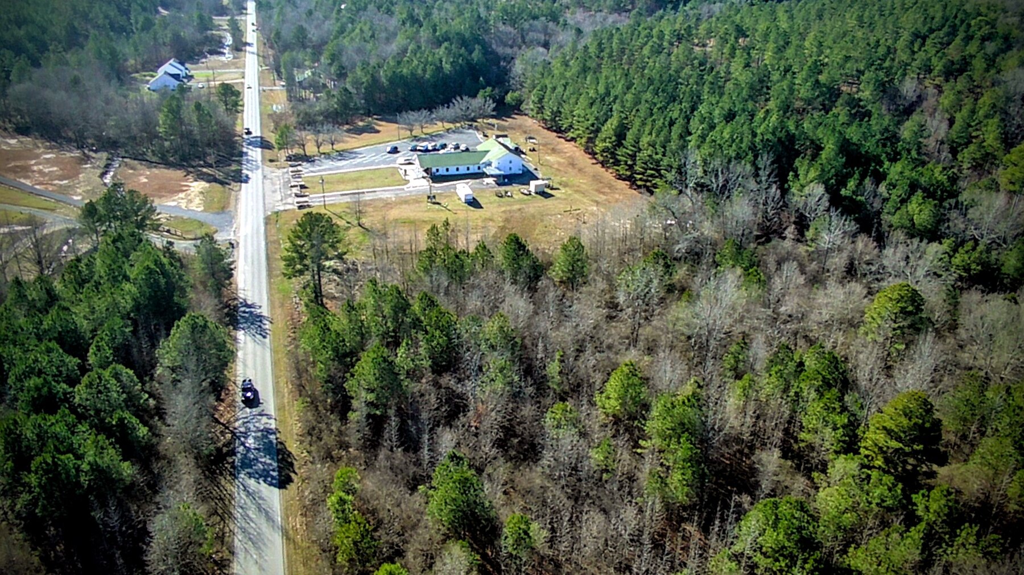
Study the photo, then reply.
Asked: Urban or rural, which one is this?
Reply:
rural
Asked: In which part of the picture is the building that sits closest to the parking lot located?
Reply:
top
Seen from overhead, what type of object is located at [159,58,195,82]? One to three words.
house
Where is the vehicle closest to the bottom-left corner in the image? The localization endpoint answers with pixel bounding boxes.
[239,377,254,402]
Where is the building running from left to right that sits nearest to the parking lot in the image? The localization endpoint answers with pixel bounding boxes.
[419,132,528,180]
